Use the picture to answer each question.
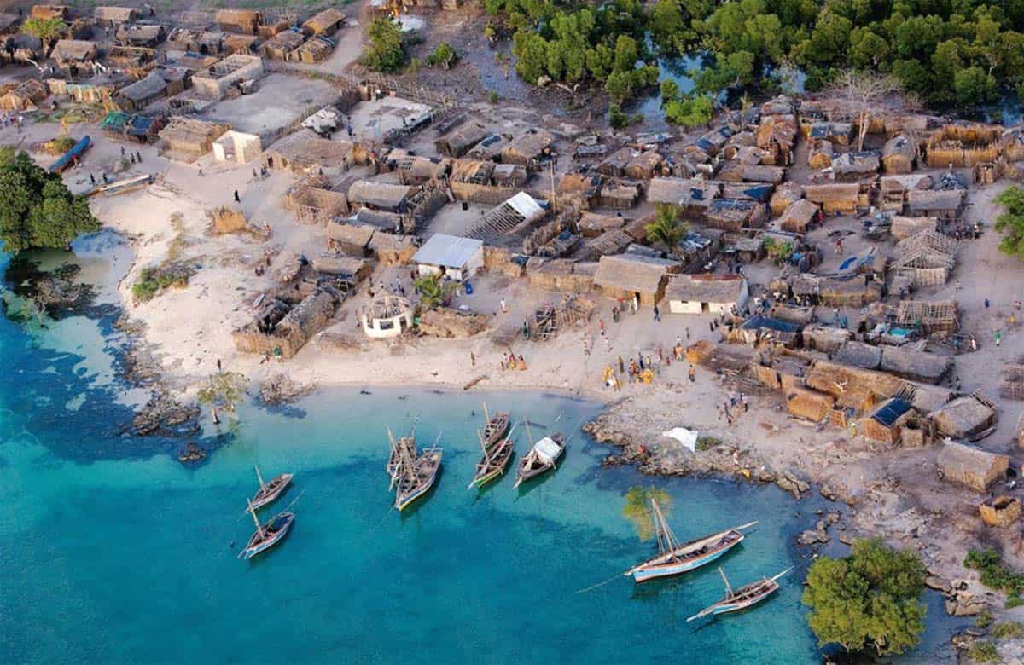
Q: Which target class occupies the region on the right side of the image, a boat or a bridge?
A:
boat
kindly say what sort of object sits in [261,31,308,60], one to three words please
shed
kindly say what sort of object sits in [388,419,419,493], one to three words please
boat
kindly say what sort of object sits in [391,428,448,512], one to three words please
boat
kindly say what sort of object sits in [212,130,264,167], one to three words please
house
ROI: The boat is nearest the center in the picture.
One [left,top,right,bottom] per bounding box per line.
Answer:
[484,403,512,452]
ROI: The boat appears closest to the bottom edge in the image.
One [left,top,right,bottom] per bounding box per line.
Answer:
[687,568,792,621]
